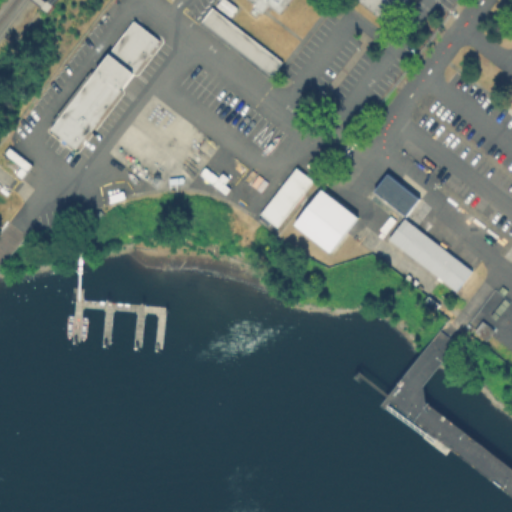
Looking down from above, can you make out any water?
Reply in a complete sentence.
Yes, the picture does contain water.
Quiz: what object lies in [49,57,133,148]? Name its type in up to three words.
building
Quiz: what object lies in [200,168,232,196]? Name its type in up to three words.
building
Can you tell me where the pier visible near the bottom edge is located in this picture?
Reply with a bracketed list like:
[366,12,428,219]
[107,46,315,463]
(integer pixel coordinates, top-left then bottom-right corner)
[354,330,512,497]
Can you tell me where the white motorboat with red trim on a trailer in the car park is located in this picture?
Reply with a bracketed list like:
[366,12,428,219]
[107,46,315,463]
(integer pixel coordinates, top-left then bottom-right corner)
[264,137,281,154]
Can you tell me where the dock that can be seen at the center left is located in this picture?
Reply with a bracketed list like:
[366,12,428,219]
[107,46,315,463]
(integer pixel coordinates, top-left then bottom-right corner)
[72,256,168,352]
